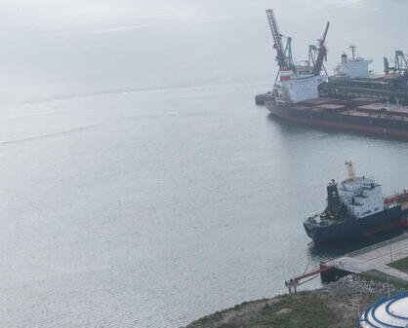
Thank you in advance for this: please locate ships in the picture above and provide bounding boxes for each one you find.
[256,63,408,138]
[295,137,408,239]
[319,43,408,102]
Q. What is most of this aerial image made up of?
water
